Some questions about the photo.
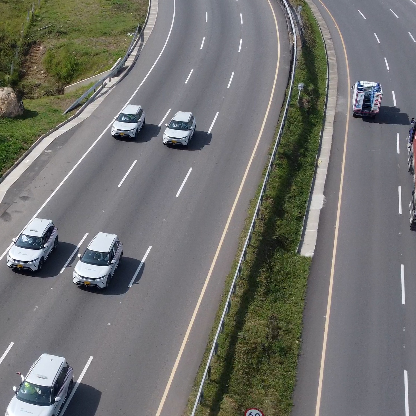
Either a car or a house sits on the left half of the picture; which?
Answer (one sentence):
You can see a car on the left half of the picture.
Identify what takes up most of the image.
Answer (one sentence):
The bulk of the photo consists of paved ground.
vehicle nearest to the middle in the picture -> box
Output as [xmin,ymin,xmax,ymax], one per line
[166,106,199,143]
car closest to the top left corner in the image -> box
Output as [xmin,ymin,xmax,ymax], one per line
[113,101,148,136]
